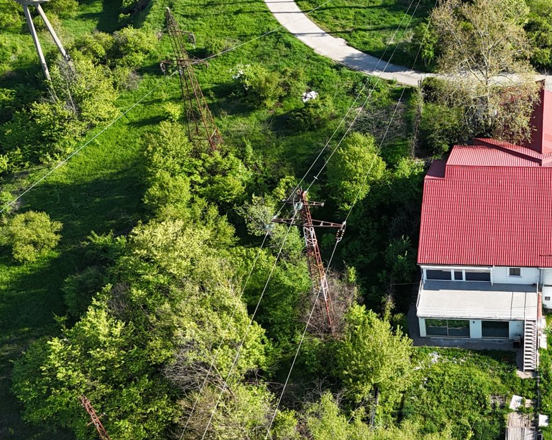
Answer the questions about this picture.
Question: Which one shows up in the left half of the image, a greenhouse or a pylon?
pylon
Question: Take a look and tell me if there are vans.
No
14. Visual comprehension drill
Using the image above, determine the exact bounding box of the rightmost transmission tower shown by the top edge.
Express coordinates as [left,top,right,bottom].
[151,9,219,152]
